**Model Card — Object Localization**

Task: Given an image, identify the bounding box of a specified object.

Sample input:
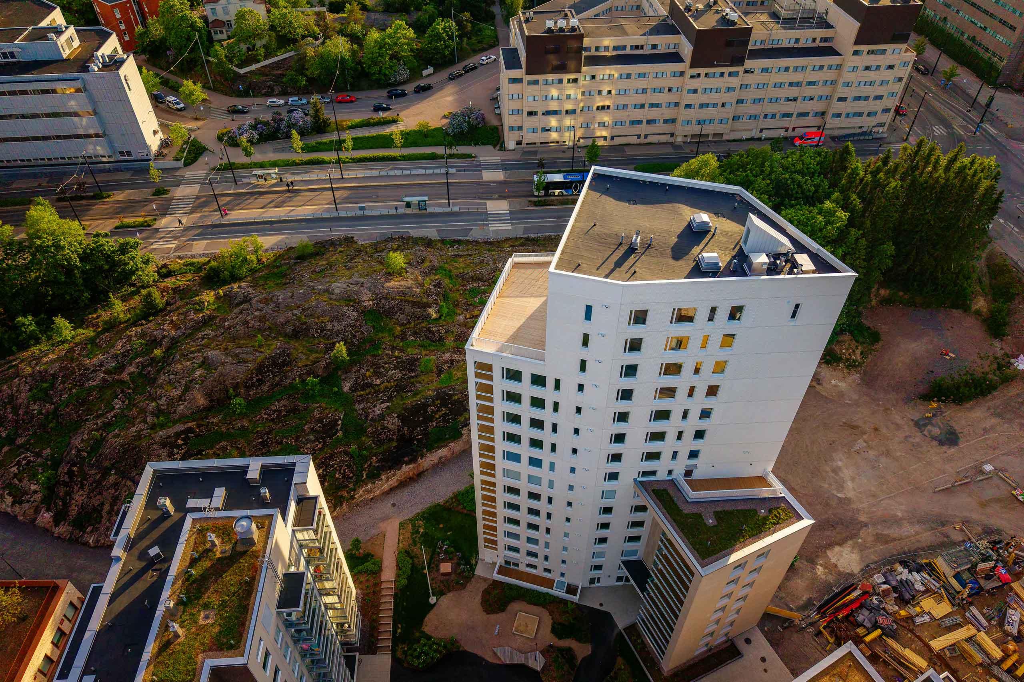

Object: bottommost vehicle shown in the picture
[533,170,590,195]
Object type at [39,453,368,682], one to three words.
building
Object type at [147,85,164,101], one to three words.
car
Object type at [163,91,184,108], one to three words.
vehicle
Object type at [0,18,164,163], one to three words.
building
